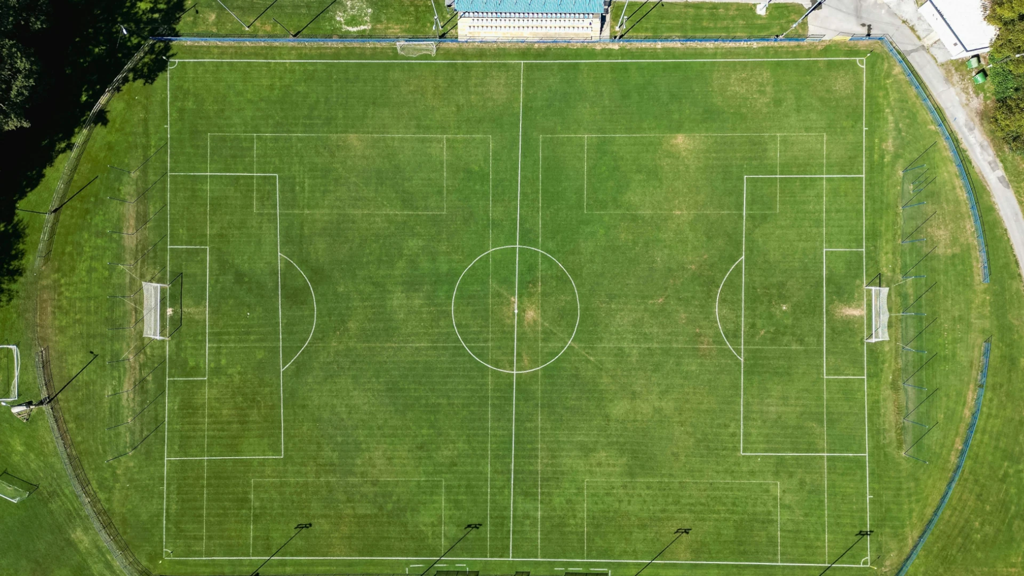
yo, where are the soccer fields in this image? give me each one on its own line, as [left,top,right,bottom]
[151,50,881,576]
